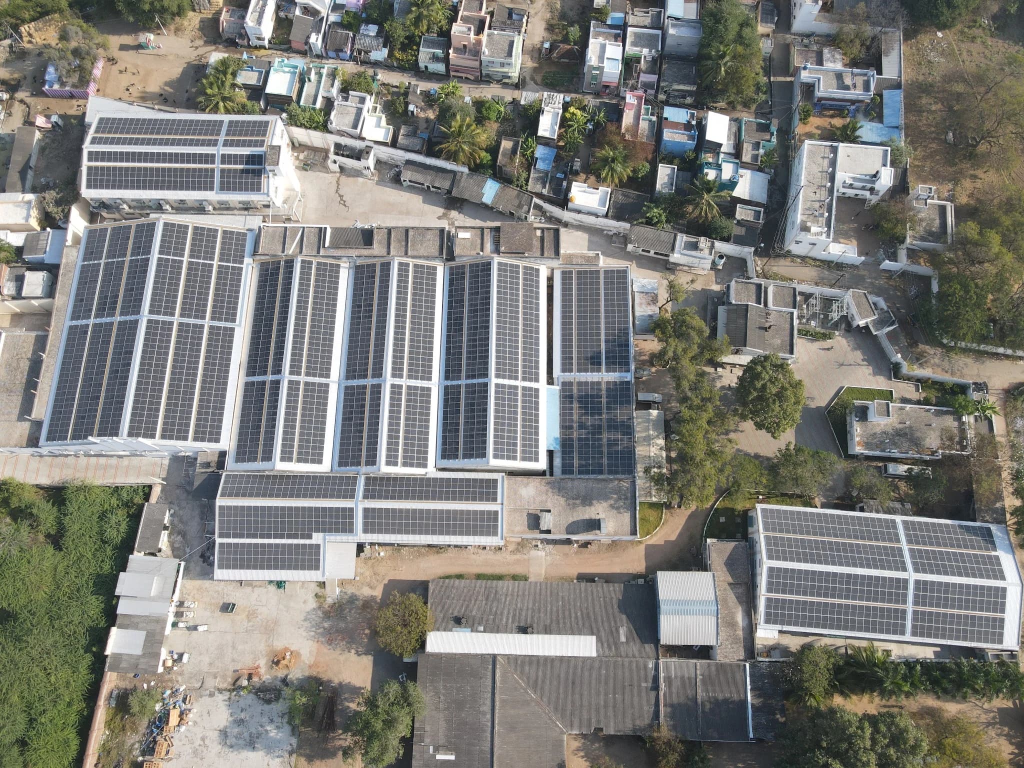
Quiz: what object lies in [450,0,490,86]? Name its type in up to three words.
house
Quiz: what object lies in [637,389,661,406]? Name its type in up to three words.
vehicle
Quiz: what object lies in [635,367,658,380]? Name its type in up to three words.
vehicle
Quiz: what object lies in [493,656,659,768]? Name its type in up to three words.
shed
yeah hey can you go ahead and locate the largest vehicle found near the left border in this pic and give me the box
[48,115,67,131]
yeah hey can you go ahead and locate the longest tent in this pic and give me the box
[42,59,105,100]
